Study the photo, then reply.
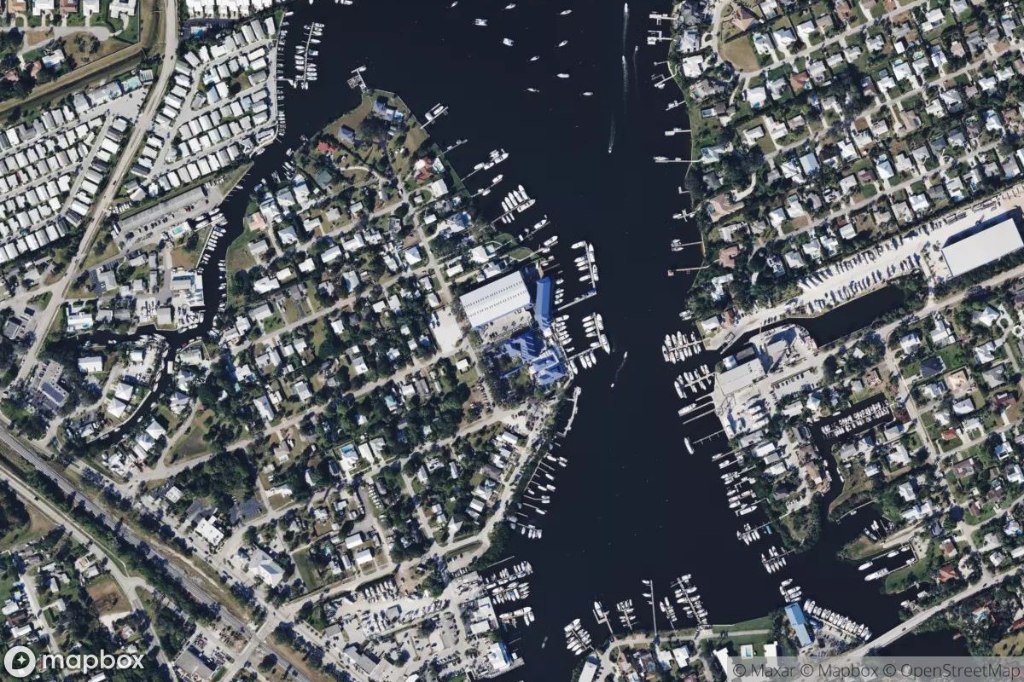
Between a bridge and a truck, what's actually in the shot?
bridge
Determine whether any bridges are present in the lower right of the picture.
Yes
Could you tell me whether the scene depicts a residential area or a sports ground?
residential area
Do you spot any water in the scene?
Yes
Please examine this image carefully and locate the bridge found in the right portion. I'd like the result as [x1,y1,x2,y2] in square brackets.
[856,617,915,655]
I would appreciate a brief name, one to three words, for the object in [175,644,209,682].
house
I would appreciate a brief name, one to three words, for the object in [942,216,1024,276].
shed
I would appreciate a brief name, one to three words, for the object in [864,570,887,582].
boat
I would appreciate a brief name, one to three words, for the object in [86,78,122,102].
building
